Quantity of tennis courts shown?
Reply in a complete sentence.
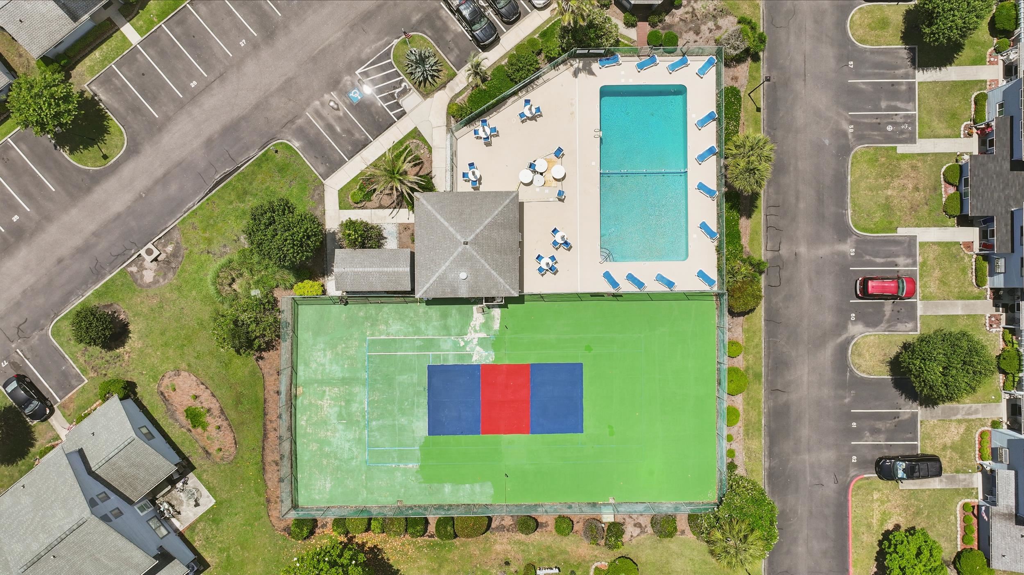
In total, there is 1 tennis court in the scene.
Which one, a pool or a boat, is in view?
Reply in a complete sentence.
Of the two, only a pool appears.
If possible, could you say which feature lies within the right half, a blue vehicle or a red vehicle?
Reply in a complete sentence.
What appears within the right half is a red vehicle.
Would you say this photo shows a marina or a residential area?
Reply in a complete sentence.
This looks like a residential area.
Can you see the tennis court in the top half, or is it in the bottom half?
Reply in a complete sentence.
The bottom half of the photo is where the tennis court is.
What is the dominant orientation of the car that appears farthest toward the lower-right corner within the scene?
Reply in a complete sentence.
Seen from above, the car that appears farthest toward the lower-right corner lies from left to right.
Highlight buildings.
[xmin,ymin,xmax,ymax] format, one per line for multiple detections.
[0,50,22,100]
[978,430,1024,573]
[0,396,195,575]
[333,249,412,291]
[413,189,522,298]
[0,0,108,60]
[958,72,1024,289]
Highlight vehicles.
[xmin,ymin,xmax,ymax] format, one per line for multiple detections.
[875,453,940,481]
[485,0,521,28]
[2,371,53,423]
[855,274,916,301]
[440,0,496,50]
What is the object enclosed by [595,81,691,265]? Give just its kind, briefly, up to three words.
swimming pool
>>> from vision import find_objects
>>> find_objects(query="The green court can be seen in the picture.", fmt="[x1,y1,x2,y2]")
[292,293,718,508]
